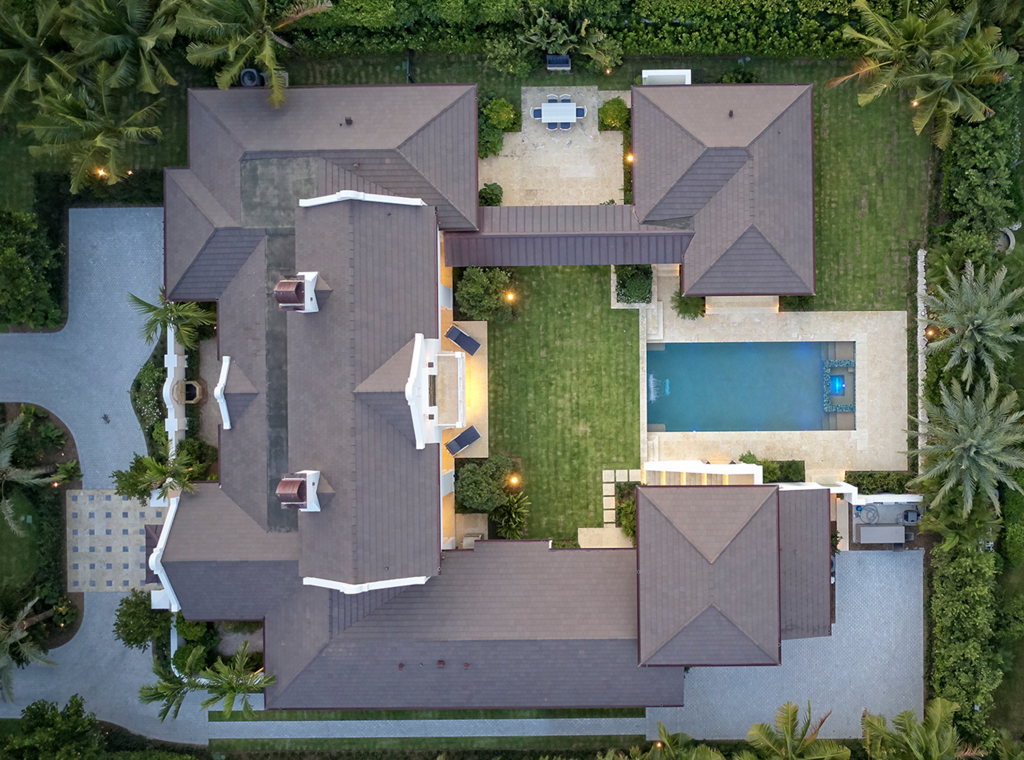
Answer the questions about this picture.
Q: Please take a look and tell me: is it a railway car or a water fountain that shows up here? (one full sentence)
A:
Looking from above, you can make out a water fountain.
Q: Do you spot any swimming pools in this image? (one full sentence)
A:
Yes, the photo shows a swimming pool.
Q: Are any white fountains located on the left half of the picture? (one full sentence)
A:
No, the scene shows no white fountain on the left half of the picture.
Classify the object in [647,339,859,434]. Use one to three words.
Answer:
swimming pool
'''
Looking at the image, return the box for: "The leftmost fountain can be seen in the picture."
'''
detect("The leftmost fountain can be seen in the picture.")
[169,377,207,407]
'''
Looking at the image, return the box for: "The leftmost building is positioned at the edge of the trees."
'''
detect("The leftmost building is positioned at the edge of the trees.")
[145,81,685,713]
